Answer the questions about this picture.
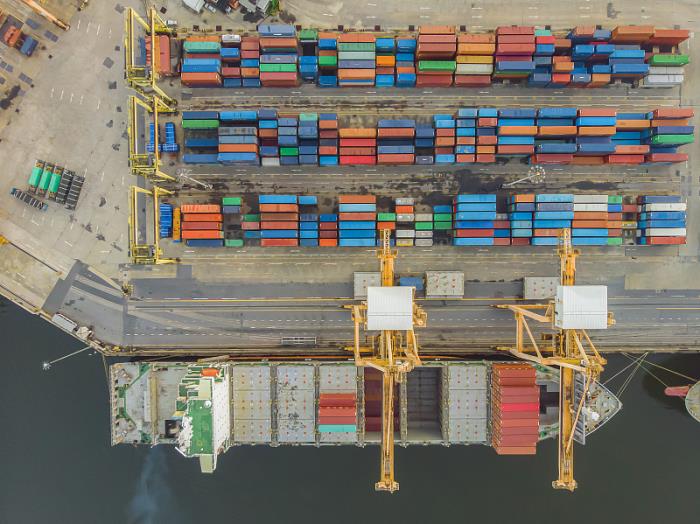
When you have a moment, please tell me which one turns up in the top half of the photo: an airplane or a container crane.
container crane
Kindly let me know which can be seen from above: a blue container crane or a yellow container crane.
yellow container crane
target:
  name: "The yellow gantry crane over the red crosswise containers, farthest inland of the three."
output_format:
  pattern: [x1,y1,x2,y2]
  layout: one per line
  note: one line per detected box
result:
[122,4,180,105]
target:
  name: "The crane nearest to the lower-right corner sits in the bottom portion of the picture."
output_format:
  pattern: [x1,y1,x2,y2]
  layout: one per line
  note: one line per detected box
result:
[492,227,607,493]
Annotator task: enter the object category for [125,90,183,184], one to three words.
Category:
container crane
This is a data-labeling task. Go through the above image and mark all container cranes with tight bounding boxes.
[342,227,423,493]
[27,0,70,29]
[492,227,607,493]
[122,4,180,105]
[126,182,184,266]
[125,90,183,184]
